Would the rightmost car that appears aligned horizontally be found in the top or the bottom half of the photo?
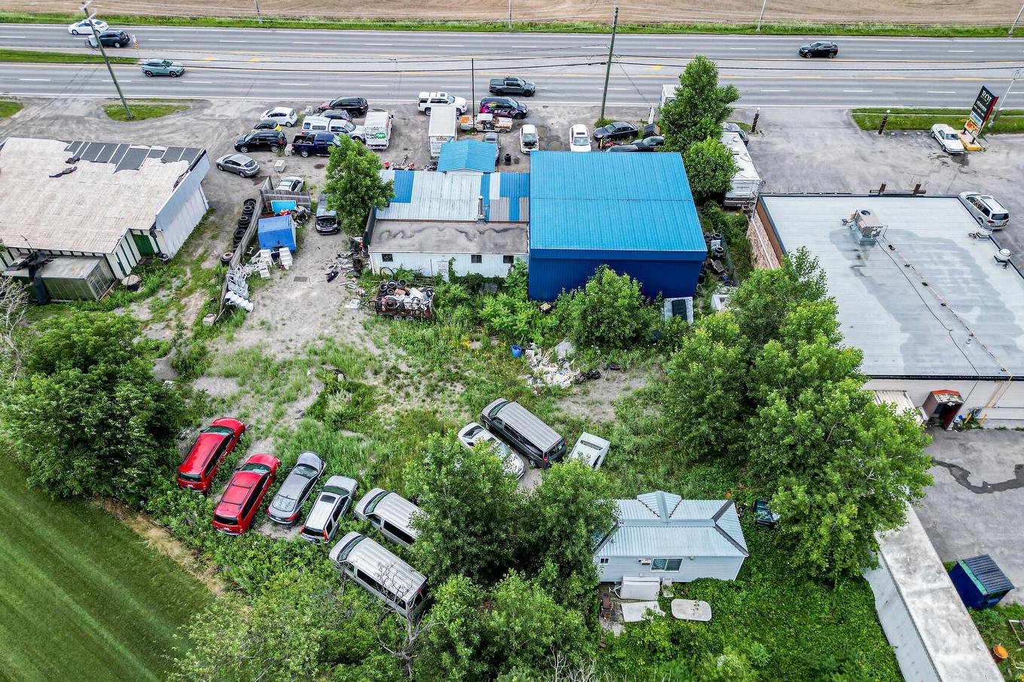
top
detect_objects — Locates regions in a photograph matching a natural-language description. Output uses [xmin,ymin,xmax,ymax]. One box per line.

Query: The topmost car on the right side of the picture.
[797,38,840,58]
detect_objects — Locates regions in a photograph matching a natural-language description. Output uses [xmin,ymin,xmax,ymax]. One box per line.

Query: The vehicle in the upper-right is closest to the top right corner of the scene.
[931,125,965,154]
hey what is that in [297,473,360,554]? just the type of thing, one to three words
car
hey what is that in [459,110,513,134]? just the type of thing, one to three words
truck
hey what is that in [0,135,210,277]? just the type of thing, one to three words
building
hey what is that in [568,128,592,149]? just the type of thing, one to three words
car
